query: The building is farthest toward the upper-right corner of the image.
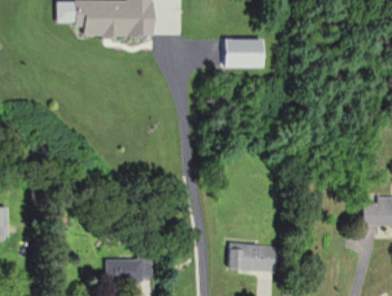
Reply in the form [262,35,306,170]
[226,38,266,68]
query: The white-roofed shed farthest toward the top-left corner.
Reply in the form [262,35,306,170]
[56,0,76,23]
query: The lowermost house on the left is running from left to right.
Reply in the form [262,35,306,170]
[105,258,152,280]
